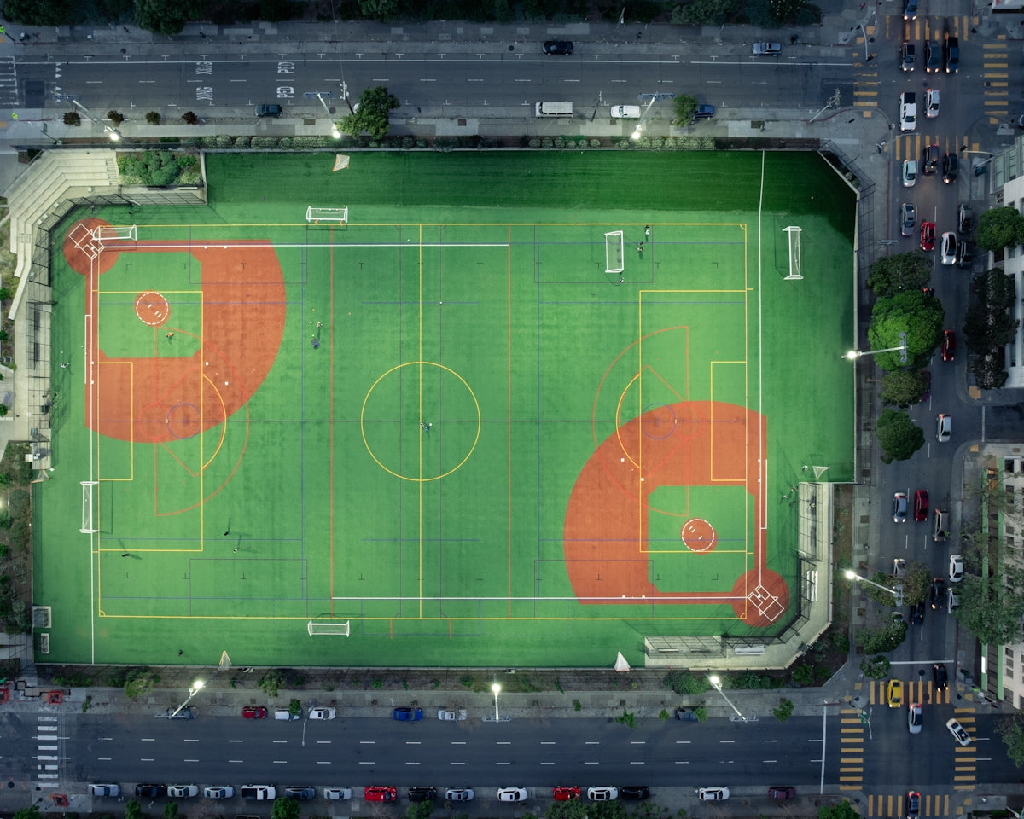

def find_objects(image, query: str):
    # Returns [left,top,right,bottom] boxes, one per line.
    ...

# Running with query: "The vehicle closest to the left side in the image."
[89,781,122,798]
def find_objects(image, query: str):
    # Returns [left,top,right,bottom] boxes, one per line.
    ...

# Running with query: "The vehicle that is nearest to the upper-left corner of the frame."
[255,104,284,119]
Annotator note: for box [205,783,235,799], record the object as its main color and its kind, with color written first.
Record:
blue car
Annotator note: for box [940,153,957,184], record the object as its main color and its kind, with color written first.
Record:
black car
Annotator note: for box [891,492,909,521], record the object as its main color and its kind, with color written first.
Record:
blue car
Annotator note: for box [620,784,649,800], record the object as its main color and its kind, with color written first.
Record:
black car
